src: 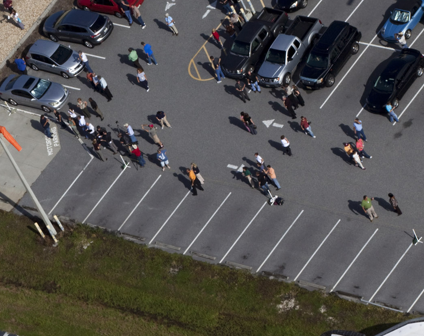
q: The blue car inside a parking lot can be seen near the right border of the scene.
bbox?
[379,0,424,41]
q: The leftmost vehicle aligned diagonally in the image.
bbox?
[214,2,288,82]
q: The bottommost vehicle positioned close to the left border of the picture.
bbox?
[0,73,71,114]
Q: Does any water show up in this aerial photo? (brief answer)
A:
No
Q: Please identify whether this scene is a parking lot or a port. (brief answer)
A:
parking lot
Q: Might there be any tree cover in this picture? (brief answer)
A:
No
